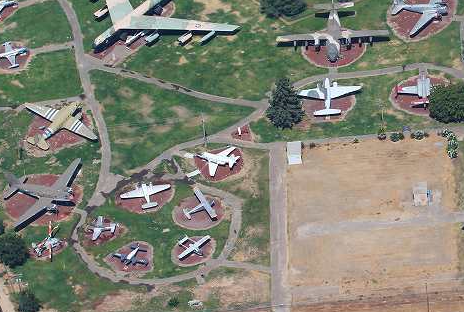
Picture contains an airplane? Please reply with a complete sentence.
Yes, the photo shows an airplane.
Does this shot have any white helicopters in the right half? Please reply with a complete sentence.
No, I see no white helicopter in the right half.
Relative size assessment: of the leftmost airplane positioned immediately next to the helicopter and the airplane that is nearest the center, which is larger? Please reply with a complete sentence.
The leftmost airplane positioned immediately next to the helicopter is larger than the airplane that is nearest the center.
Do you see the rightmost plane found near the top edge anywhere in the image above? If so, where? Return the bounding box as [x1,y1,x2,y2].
[389,0,449,33]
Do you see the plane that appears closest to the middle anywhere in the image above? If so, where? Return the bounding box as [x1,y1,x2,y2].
[196,147,243,176]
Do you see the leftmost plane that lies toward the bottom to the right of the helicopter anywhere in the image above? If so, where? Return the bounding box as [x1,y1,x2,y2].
[86,215,117,239]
